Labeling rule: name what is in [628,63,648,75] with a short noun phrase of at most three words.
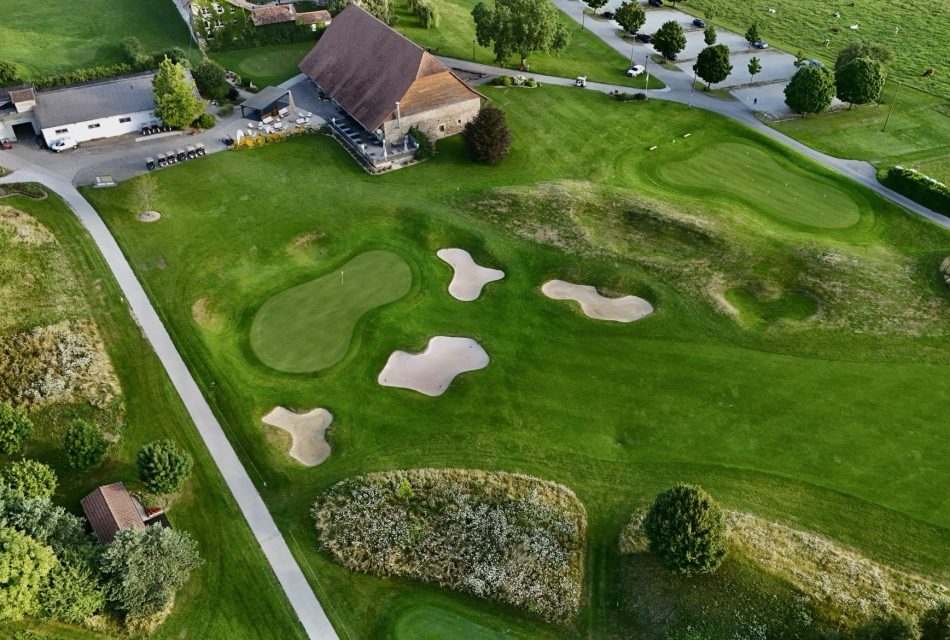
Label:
vehicle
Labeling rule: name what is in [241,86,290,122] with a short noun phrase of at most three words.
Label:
building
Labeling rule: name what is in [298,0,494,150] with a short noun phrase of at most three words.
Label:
barn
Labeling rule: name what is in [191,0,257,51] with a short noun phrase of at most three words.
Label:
house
